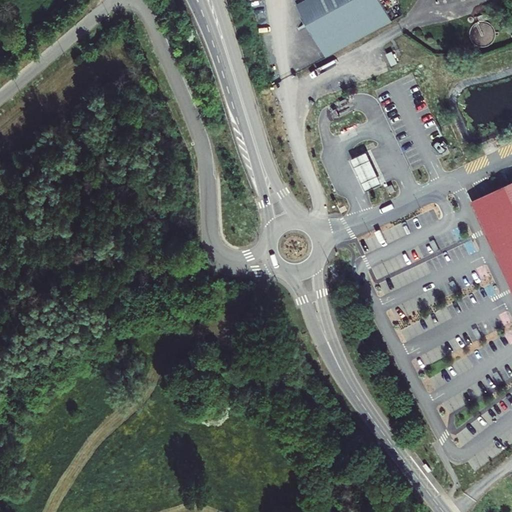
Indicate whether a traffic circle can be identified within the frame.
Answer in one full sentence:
Yes, the photo shows a traffic circle.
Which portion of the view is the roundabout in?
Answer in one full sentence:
The roundabout sits in the center section of the image.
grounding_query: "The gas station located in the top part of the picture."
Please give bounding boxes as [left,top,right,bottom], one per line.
[350,153,380,191]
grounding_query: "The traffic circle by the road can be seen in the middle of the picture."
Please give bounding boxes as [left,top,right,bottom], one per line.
[256,194,358,300]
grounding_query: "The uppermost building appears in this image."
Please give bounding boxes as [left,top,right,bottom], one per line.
[292,0,391,58]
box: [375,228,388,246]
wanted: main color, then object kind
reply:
white vehicle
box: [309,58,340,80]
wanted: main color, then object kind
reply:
white truck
